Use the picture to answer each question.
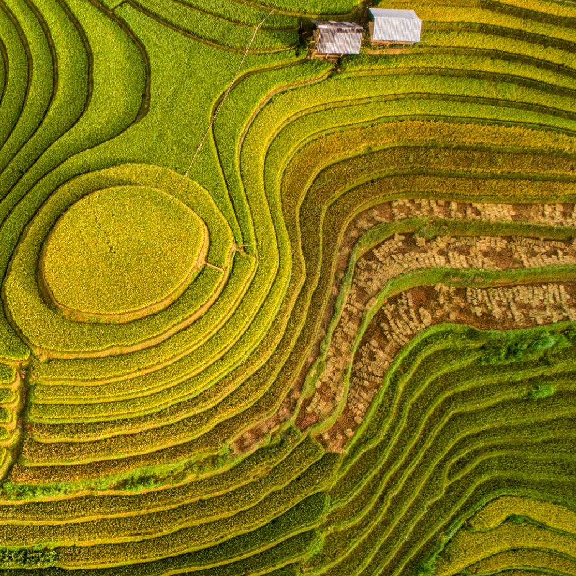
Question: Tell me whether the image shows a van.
No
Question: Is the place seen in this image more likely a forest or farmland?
farmland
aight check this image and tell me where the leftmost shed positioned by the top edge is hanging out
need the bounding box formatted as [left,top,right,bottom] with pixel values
[306,21,362,62]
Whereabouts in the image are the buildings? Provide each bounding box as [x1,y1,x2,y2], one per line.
[359,9,423,52]
[306,21,362,62]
